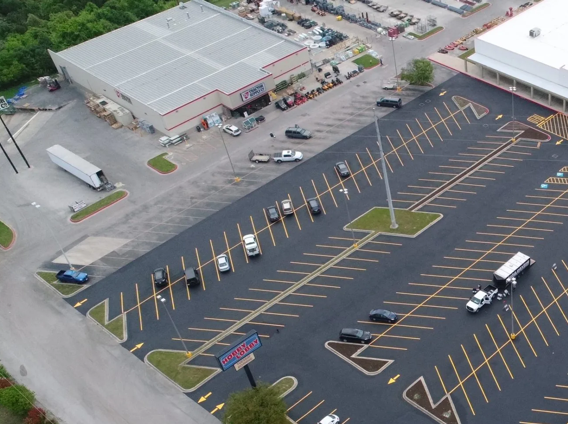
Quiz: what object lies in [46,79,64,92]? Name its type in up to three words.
vehicle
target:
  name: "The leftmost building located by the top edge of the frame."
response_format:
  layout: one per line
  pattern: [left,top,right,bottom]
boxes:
[47,0,311,137]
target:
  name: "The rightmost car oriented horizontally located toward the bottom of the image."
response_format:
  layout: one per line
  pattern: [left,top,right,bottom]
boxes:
[368,310,398,324]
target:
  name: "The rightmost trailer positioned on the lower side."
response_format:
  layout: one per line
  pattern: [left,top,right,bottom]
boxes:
[494,252,535,289]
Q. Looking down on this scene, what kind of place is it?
parking lot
